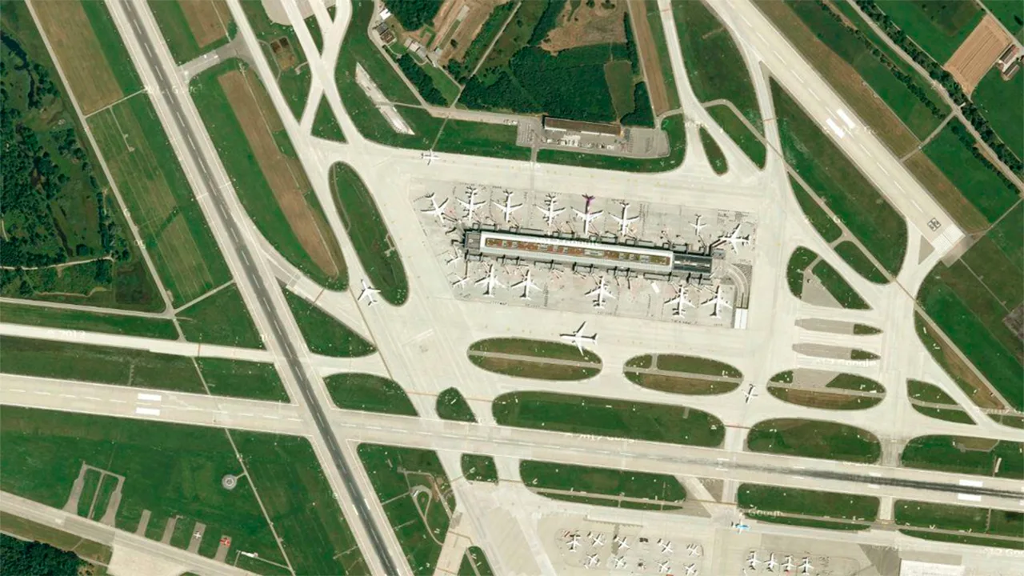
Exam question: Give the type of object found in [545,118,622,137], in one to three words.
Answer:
building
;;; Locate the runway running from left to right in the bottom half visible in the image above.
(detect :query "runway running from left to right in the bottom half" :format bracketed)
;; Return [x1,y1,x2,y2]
[0,373,1024,511]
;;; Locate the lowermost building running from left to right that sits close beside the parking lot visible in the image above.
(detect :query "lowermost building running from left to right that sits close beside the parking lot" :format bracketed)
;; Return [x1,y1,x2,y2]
[466,232,712,275]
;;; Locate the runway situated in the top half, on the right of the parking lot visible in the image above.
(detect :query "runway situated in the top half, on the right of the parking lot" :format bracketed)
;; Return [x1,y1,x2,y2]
[709,0,964,257]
